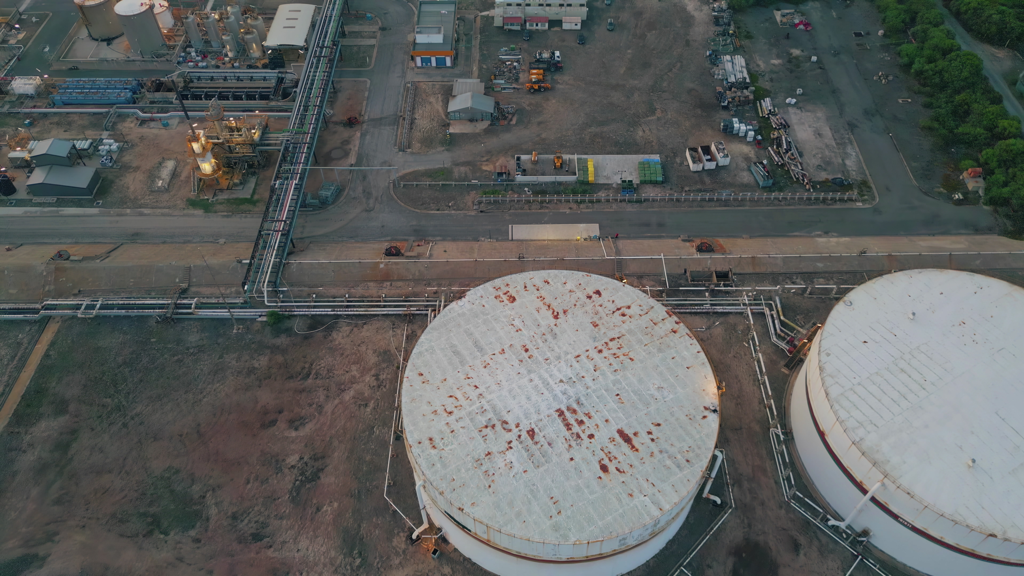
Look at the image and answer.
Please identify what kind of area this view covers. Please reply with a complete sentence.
The picture captures an industrial area.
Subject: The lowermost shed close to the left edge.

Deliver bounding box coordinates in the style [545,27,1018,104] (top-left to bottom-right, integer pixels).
[26,163,102,200]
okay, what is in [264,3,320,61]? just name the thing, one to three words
building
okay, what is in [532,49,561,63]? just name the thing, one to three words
vehicle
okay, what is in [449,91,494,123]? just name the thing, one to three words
shed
